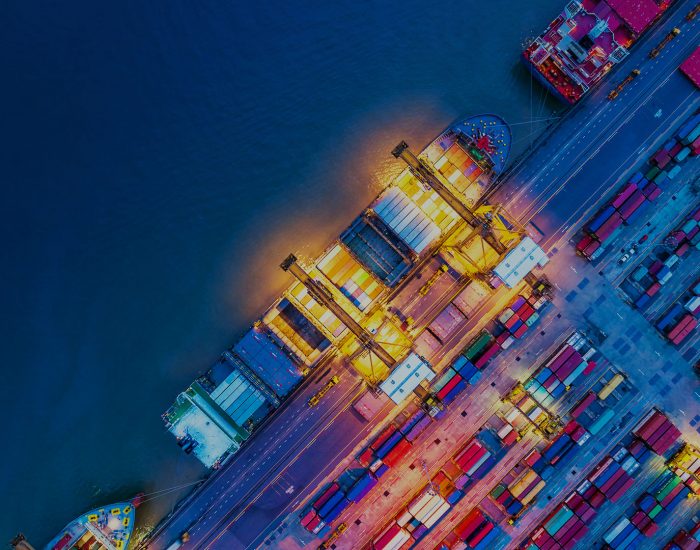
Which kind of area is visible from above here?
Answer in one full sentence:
The picture captures a port.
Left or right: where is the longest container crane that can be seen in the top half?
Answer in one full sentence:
The longest container crane that can be seen in the top half is on the right side of the image.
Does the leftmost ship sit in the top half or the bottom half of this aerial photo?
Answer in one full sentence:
The leftmost ship is in the bottom half of the image.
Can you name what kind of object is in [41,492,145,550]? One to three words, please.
ship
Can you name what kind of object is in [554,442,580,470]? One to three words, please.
shipping container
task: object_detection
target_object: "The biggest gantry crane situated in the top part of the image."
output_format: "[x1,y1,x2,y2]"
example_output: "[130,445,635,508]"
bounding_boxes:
[389,135,556,292]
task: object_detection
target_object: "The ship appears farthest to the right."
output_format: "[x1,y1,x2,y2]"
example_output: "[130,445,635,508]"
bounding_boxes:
[522,0,675,103]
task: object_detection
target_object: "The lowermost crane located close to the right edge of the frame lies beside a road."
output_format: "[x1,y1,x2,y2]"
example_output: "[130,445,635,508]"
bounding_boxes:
[651,441,700,499]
